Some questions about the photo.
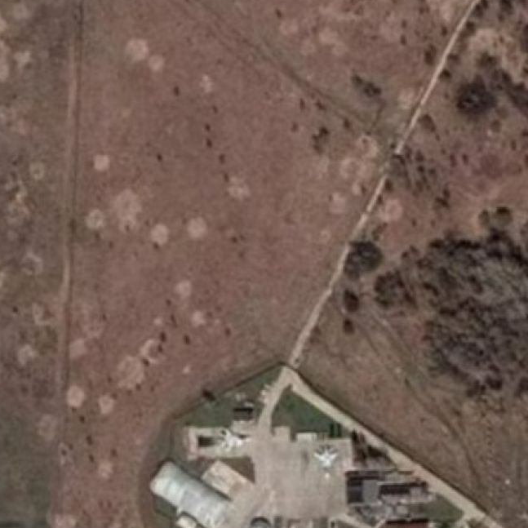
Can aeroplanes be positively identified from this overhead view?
Yes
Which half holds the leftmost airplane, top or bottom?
bottom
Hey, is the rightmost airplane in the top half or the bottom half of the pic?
bottom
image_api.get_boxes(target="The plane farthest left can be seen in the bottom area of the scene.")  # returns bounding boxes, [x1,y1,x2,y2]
[215,428,247,449]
